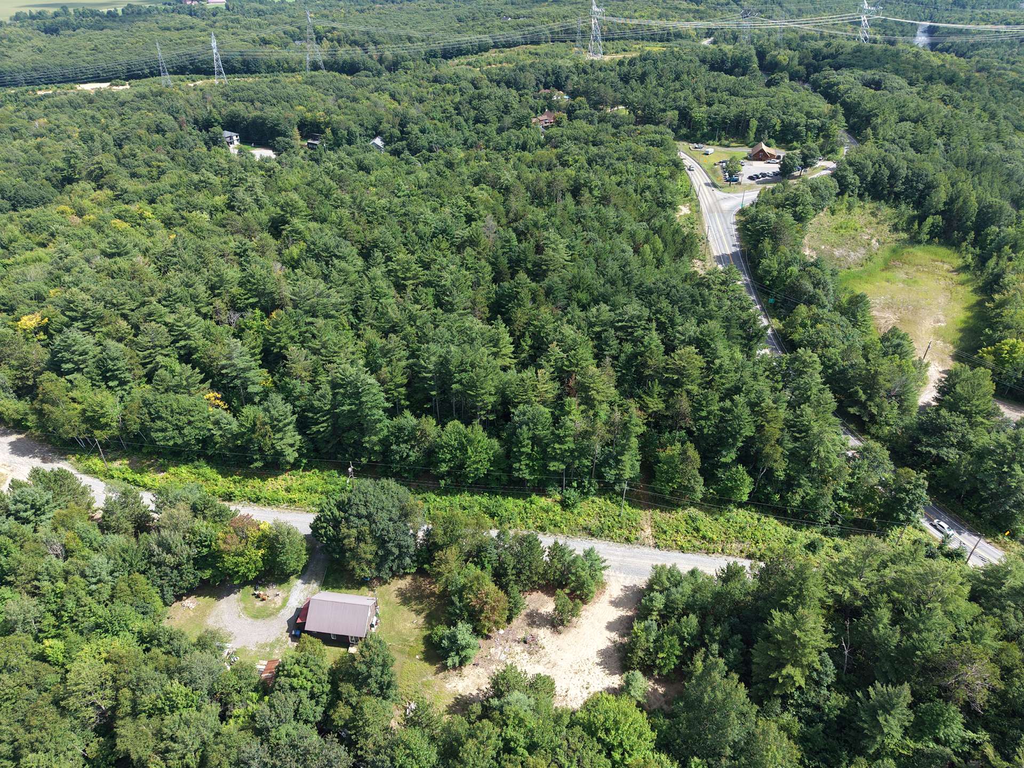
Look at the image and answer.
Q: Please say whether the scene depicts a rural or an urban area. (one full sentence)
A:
From above, the setting appears rural.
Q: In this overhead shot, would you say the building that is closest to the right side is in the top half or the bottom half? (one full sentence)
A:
It is in the top half that the building that is closest to the right side appears.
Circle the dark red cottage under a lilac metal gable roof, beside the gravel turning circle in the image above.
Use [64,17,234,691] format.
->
[294,592,379,661]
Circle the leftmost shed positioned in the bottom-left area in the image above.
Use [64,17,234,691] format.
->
[254,656,285,693]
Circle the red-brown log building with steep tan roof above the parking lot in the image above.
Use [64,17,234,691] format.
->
[742,134,790,159]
